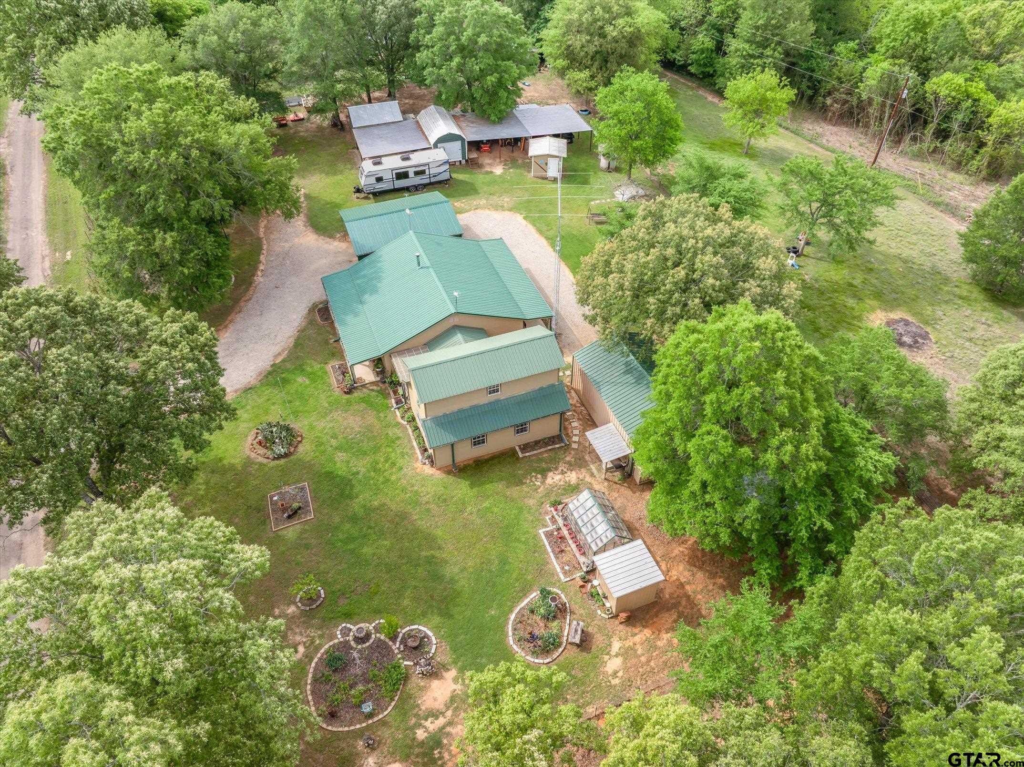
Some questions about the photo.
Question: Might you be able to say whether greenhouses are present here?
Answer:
Yes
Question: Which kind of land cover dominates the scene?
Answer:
trees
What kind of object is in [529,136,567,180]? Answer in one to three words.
shed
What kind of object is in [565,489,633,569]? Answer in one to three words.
greenhouse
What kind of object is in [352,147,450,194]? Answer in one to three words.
trailer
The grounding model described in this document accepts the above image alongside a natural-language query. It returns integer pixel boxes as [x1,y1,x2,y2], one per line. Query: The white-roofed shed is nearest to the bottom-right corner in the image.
[593,537,666,614]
